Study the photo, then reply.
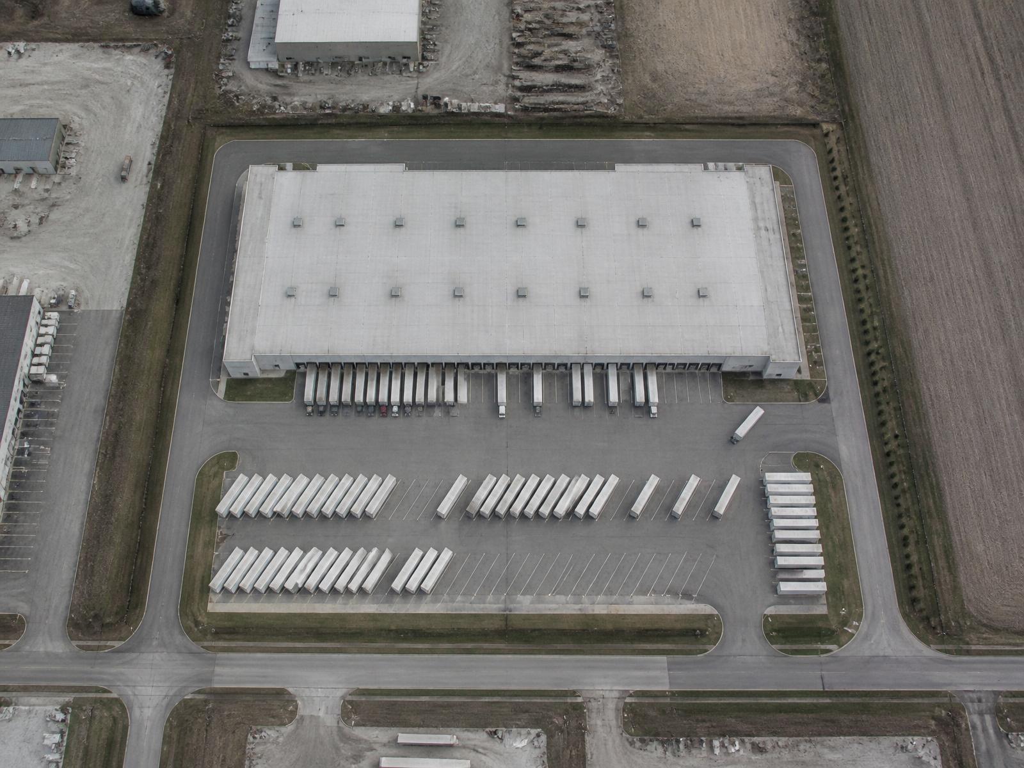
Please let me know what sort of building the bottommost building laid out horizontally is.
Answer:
warehouse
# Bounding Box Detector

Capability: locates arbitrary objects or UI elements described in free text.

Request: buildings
[0,295,41,486]
[271,0,420,62]
[0,119,66,173]
[222,163,801,377]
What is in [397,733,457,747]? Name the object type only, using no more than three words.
trailer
